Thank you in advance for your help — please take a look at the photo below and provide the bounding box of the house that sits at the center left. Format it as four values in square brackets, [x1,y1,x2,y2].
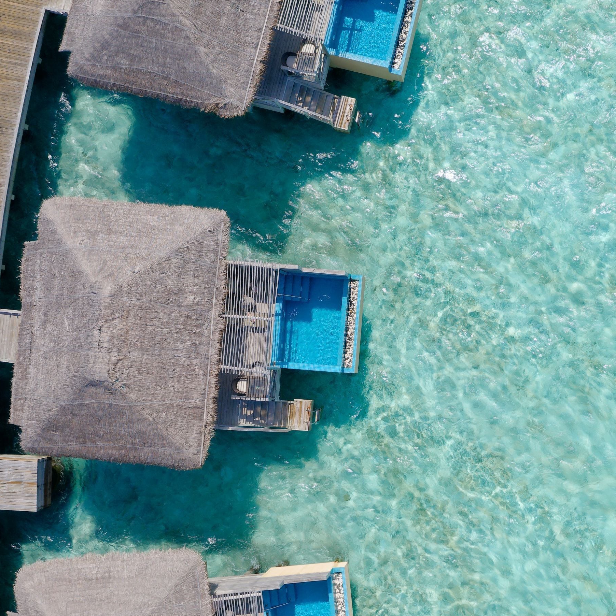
[10,195,239,470]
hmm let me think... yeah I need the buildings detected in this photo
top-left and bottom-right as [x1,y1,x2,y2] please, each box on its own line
[10,195,239,470]
[6,544,217,616]
[57,0,283,127]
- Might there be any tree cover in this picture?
No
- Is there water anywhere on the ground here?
Yes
